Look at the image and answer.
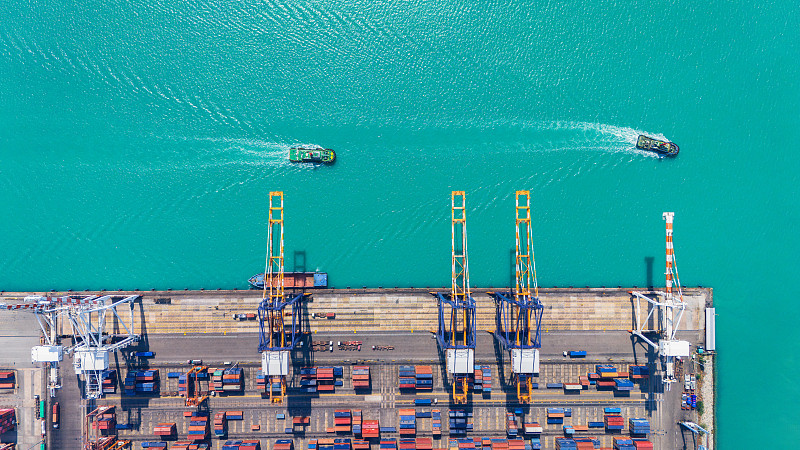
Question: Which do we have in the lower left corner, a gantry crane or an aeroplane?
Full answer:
Visible in the lower left corner is a gantry crane.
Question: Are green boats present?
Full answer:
Yes, there's a green boat here.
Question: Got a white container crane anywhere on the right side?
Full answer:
Yes, the scene does show a white container crane on the right side.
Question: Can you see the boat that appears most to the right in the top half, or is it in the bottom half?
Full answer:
The top half of the photo is where the boat that appears most to the right is.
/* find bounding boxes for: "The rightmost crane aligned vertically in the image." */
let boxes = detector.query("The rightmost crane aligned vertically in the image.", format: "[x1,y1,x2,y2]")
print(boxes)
[623,211,689,391]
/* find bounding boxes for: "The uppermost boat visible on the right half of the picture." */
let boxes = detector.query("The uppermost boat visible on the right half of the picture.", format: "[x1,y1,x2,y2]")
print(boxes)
[636,134,680,157]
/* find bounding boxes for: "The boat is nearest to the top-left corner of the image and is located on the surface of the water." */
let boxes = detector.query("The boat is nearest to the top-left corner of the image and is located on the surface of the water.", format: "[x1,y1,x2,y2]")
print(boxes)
[289,147,336,164]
